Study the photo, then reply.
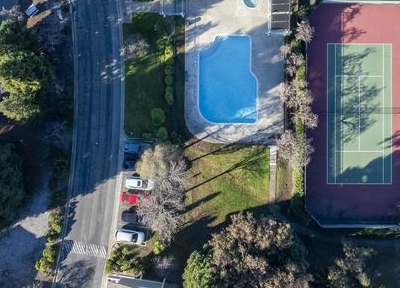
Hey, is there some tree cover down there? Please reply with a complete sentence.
Yes, some tree cover is visible.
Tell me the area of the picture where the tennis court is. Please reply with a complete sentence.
The tennis court is in the right part of the image.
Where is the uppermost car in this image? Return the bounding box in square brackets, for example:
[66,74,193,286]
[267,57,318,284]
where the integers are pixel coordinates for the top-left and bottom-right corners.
[123,141,149,154]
